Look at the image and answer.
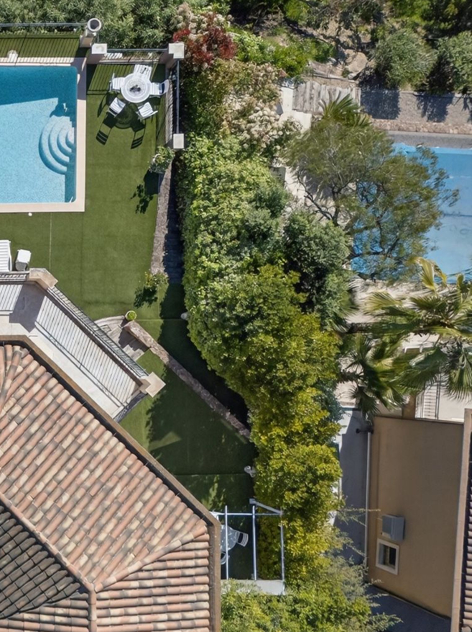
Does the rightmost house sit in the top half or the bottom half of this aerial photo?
bottom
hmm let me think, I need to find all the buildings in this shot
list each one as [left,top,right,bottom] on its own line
[0,339,220,632]
[371,409,472,632]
